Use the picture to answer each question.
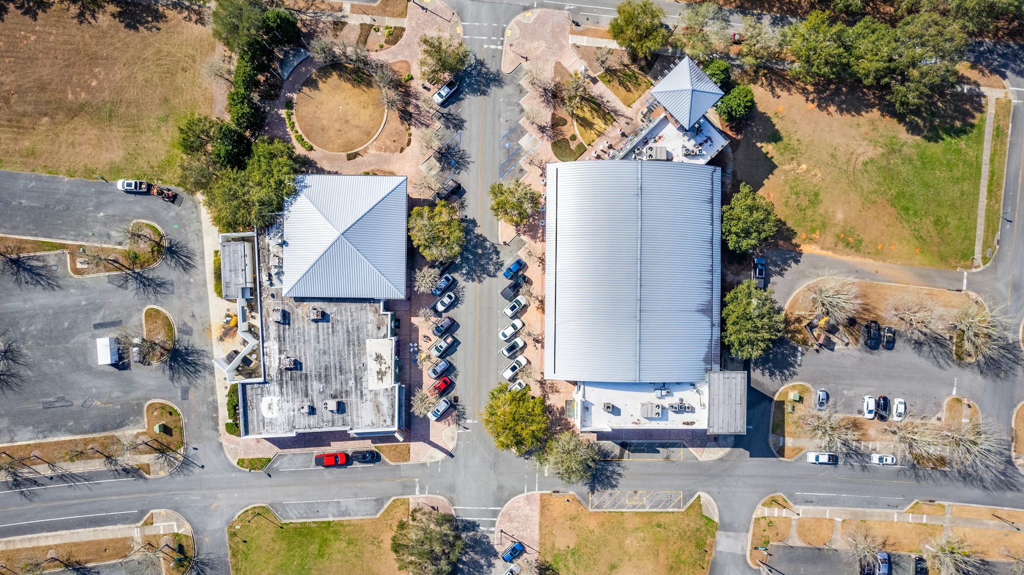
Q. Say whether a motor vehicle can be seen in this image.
Yes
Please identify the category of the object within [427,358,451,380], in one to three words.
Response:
car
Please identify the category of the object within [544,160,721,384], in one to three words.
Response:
building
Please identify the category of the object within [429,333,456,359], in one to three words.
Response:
truck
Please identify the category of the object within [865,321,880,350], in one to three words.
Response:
vehicle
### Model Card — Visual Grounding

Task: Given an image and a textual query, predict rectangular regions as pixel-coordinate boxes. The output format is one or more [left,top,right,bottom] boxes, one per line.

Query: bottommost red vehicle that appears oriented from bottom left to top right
[430,376,451,397]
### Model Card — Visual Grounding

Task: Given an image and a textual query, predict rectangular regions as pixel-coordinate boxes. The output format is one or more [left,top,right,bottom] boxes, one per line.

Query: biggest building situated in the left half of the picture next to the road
[238,175,408,438]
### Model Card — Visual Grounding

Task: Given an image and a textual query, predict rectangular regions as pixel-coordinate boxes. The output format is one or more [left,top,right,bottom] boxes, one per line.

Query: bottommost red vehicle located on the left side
[314,453,348,467]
